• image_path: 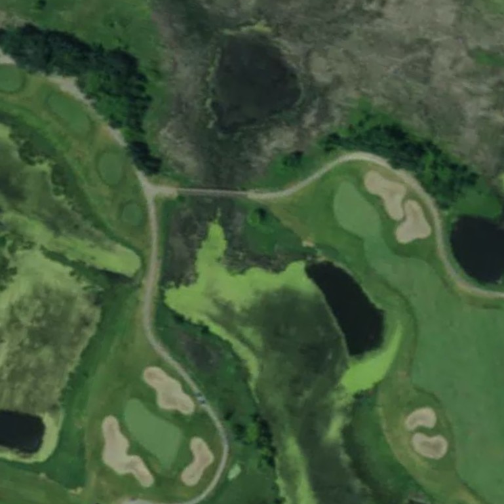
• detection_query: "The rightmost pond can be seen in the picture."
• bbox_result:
[452,173,504,283]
